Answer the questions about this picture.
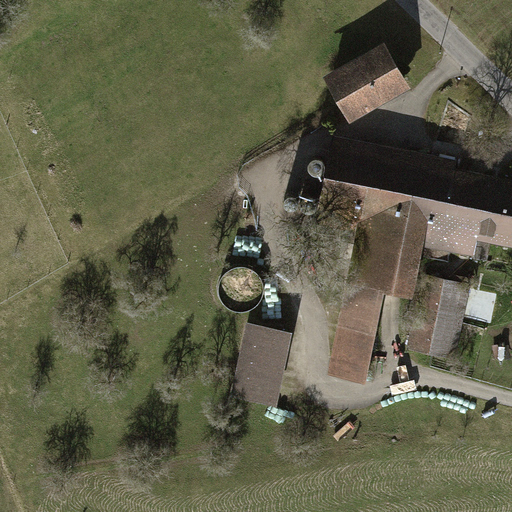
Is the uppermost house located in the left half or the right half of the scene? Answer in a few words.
right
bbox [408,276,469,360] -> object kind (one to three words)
barn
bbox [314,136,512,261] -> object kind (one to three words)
barn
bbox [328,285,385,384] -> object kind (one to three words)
shed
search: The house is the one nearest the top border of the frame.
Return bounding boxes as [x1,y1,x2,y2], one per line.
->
[324,44,410,123]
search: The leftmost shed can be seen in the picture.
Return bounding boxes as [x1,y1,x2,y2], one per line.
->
[235,322,292,406]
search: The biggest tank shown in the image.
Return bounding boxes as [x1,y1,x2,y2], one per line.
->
[218,266,264,312]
